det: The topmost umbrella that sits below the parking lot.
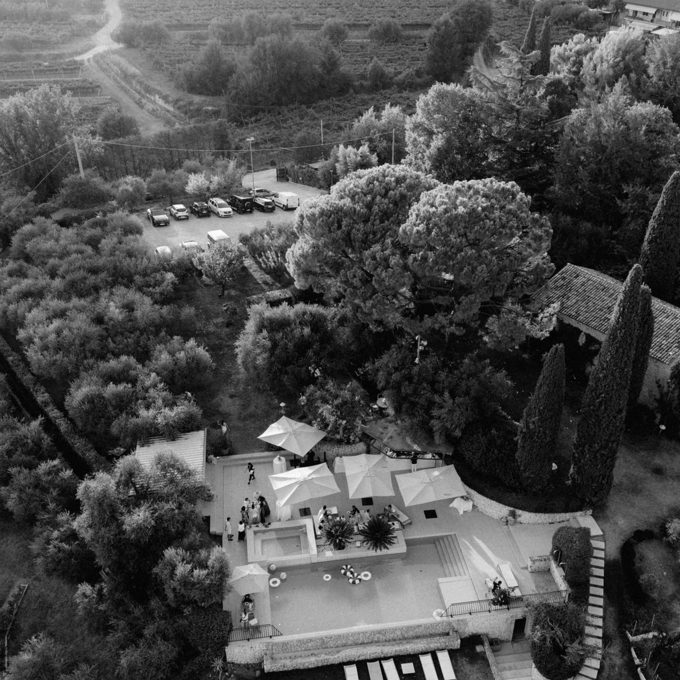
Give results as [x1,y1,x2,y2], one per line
[256,415,330,468]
